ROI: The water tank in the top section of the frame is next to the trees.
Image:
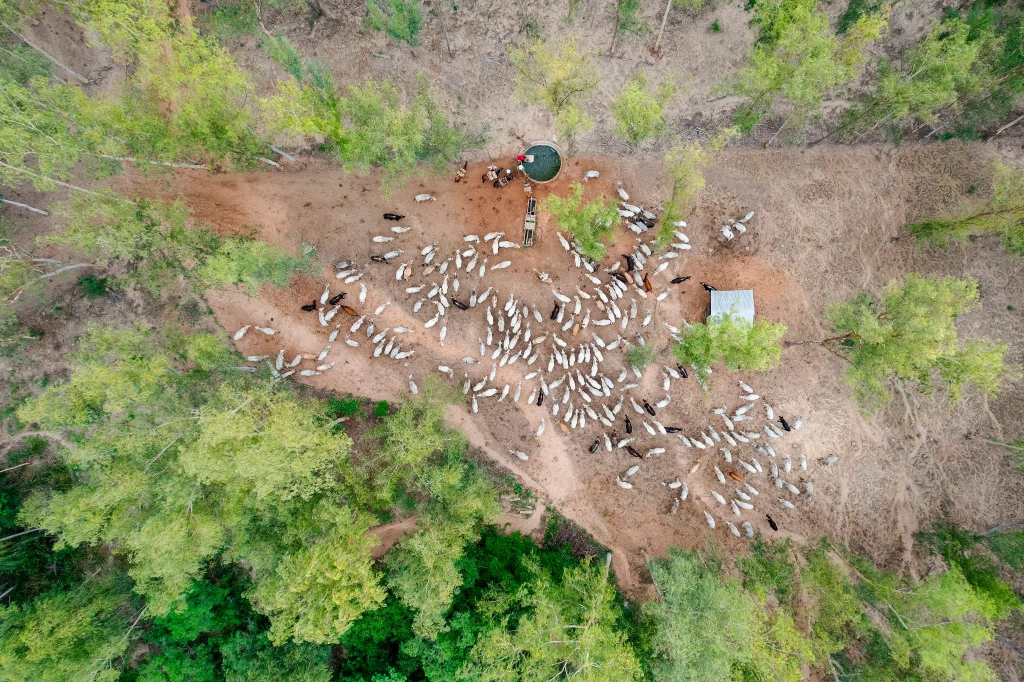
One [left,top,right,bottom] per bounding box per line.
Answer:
[522,140,565,185]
